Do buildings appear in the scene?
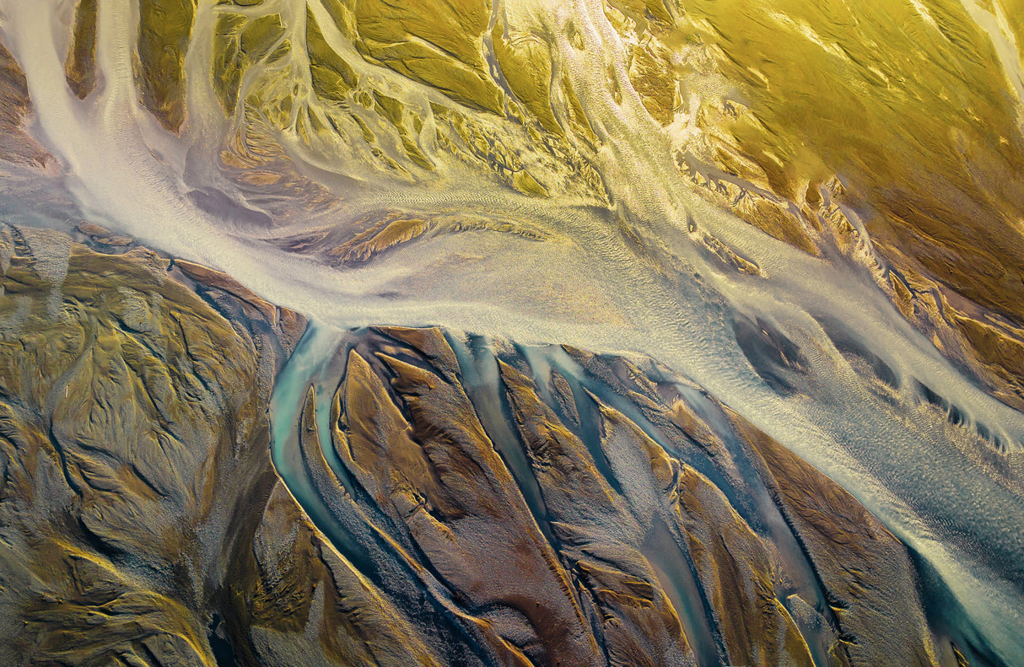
No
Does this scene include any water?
Yes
